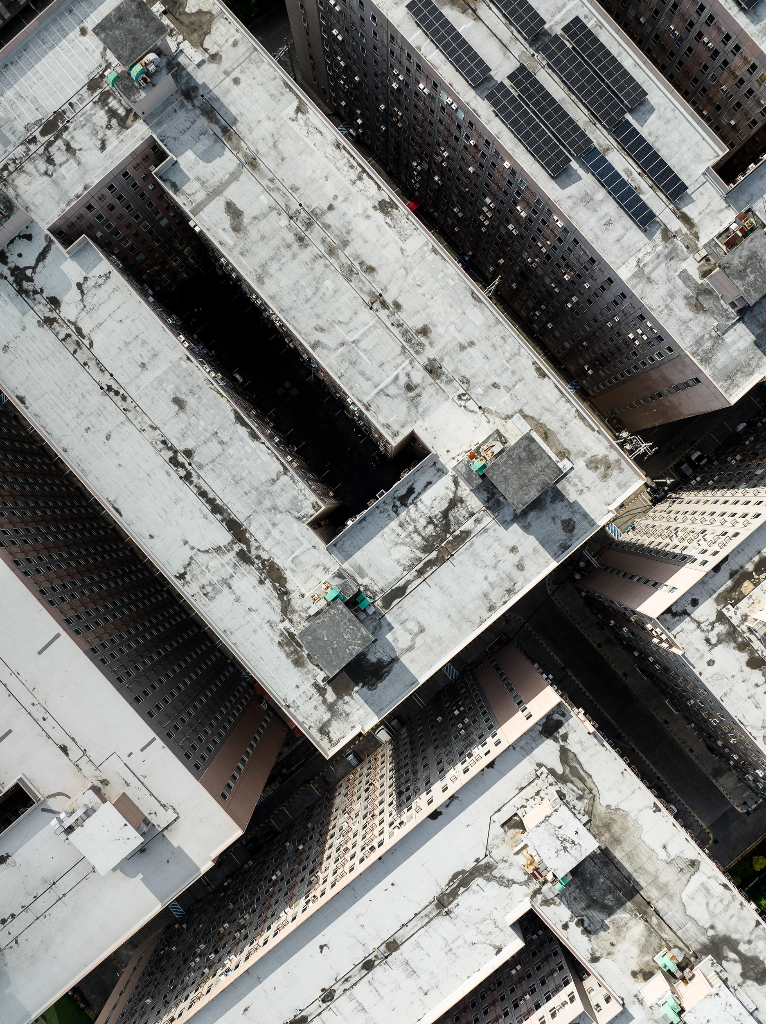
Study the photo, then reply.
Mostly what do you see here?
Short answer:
buildings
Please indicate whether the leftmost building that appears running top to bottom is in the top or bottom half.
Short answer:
bottom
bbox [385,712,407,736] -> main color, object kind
black car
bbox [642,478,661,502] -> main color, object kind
black car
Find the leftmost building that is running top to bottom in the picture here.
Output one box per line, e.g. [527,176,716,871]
[0,406,286,1024]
